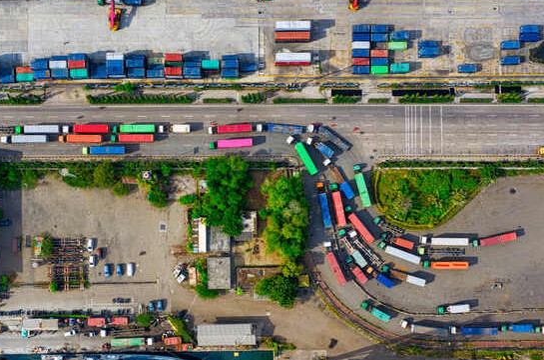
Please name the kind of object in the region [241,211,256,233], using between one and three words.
house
